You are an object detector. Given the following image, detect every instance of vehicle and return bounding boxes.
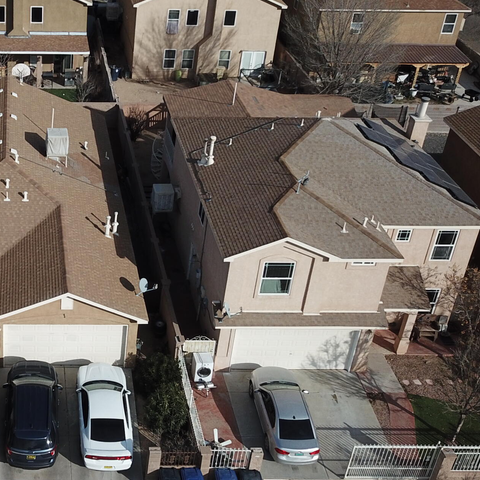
[73,366,136,477]
[249,368,324,471]
[0,365,63,473]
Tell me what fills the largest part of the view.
buildings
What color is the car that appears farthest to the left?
black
